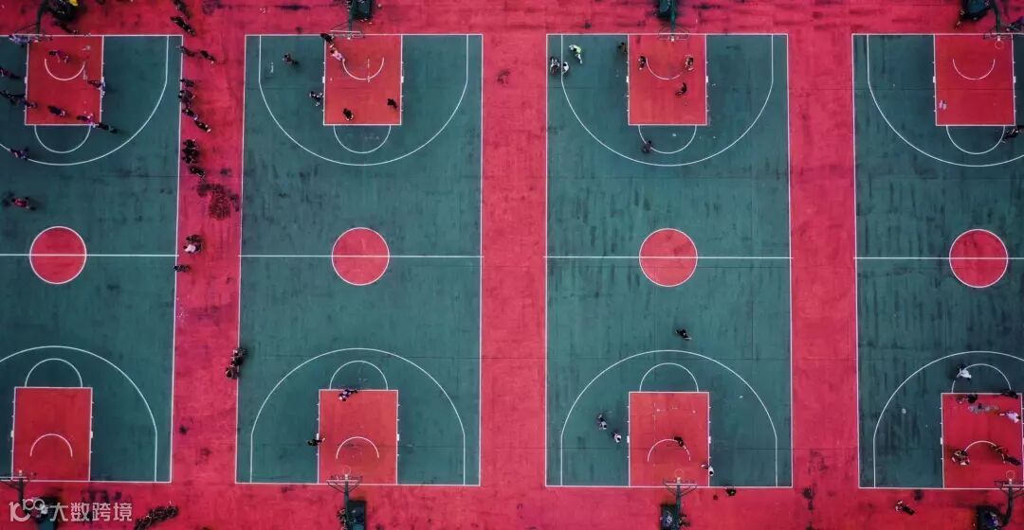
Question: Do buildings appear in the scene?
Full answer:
No, there's no building here.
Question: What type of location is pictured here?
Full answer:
The area seen from above is a sports ground.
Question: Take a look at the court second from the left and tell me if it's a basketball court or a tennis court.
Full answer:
It turns out the court second from the left is a basketball court.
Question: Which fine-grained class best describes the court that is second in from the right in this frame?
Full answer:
It turns out the court that is second in from the right is a basketball court.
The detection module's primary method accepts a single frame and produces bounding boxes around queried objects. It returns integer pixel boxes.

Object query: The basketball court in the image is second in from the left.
[235,34,483,486]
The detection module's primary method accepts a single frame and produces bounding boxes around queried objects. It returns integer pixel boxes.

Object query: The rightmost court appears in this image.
[851,33,1024,491]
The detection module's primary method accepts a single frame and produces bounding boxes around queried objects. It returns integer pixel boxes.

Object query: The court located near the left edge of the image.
[0,34,183,483]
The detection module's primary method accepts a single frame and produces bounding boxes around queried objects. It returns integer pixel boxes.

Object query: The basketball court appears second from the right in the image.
[545,33,793,489]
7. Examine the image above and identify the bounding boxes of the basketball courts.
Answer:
[0,34,183,483]
[545,33,793,489]
[235,34,483,486]
[851,33,1024,491]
